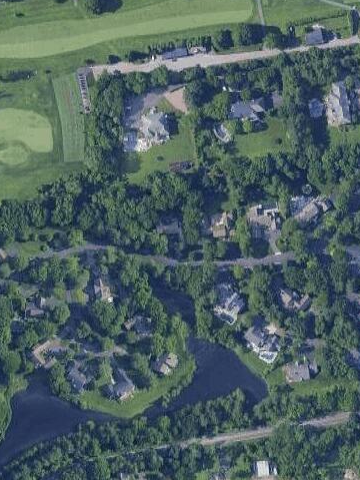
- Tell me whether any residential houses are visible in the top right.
Yes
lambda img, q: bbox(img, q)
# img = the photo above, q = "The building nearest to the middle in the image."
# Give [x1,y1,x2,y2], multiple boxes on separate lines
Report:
[154,216,178,234]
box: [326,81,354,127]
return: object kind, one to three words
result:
house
